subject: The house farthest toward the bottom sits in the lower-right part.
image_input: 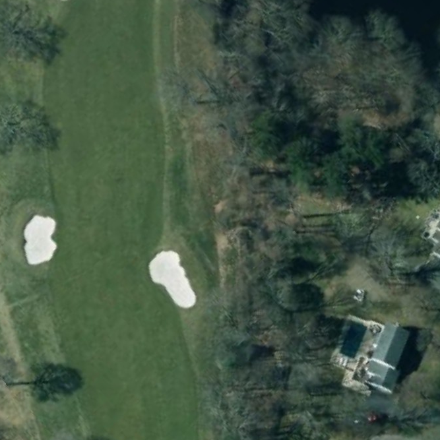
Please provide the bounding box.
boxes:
[365,320,412,390]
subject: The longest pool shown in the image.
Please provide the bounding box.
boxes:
[339,321,369,359]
